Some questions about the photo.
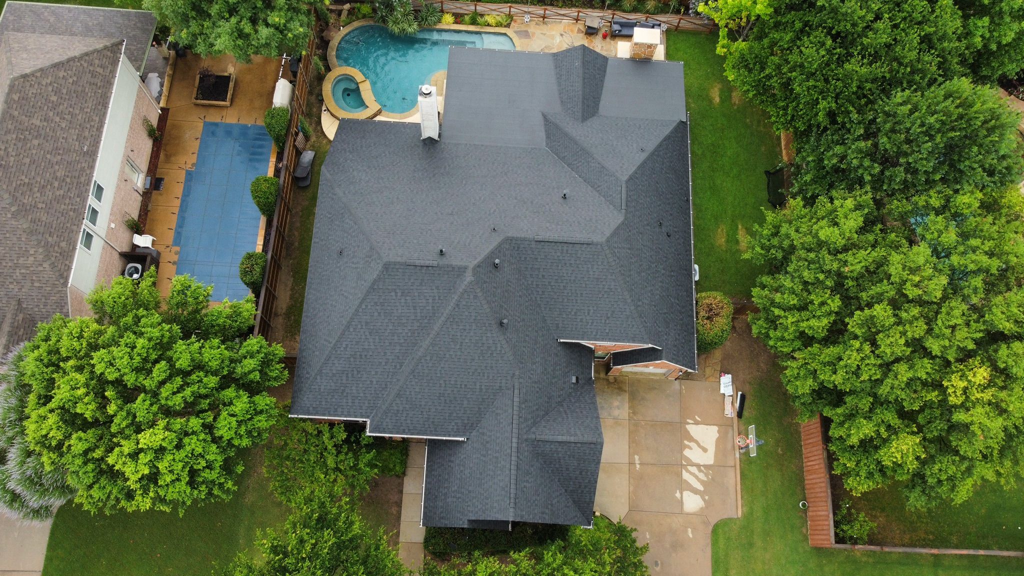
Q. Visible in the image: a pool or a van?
pool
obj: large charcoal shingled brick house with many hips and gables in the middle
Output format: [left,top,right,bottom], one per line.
[288,44,699,532]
